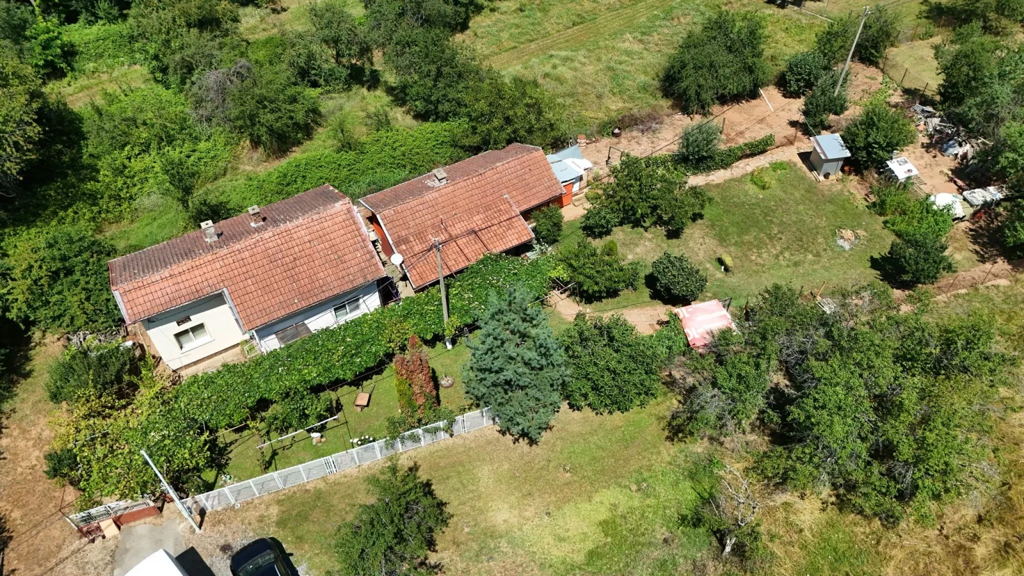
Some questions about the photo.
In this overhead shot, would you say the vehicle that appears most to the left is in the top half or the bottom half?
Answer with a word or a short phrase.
bottom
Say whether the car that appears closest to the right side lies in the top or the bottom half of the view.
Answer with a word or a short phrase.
bottom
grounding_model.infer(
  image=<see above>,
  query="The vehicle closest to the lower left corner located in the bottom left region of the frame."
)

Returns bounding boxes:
[126,553,183,576]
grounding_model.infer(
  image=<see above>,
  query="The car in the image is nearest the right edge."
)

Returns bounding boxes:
[232,533,291,576]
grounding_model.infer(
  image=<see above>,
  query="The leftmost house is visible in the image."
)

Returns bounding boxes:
[105,187,391,367]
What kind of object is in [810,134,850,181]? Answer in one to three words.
shed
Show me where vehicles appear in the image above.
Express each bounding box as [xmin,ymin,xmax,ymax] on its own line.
[232,533,291,576]
[126,553,183,576]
